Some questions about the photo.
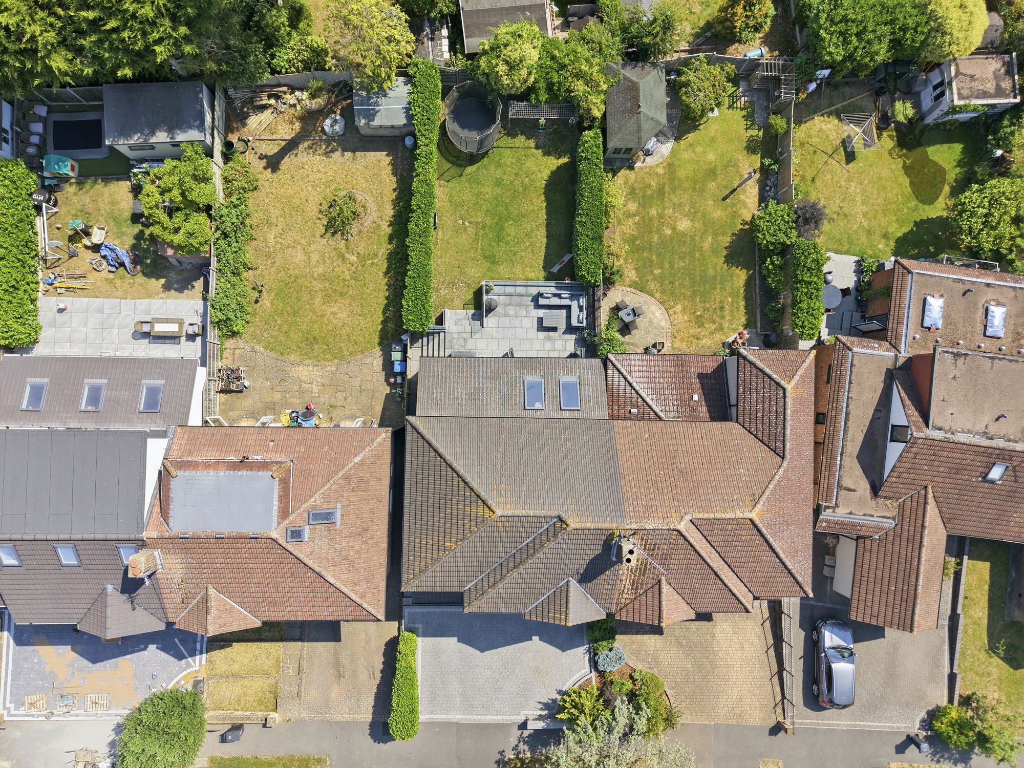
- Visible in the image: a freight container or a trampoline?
trampoline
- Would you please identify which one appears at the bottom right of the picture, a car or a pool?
car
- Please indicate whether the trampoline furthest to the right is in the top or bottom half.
top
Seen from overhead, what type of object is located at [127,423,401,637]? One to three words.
house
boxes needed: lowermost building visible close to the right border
[815,256,1024,634]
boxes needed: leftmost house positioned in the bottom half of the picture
[0,353,205,639]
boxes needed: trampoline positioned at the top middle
[439,86,500,162]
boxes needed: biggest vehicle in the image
[806,616,859,712]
